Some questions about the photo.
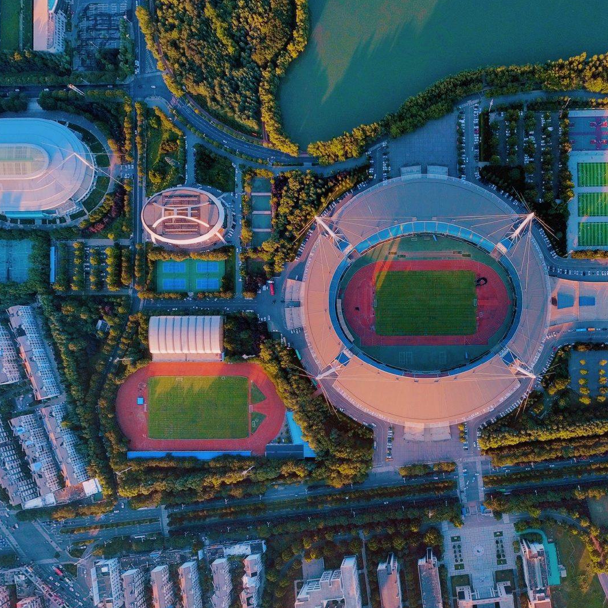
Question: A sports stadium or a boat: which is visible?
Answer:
sports stadium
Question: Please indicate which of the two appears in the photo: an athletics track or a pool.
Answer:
athletics track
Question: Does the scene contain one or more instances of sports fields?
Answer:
Yes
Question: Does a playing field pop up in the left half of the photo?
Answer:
Yes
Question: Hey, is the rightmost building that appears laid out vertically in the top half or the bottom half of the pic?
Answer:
bottom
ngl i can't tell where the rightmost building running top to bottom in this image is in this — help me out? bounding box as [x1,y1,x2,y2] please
[523,537,550,601]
